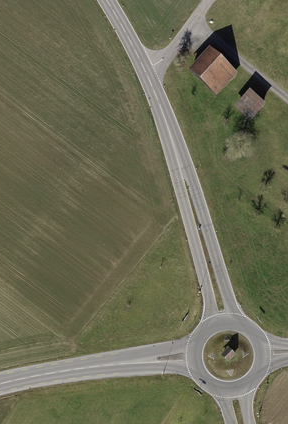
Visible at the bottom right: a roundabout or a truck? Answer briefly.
roundabout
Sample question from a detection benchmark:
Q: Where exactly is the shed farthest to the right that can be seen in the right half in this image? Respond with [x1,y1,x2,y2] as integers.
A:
[235,88,266,119]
